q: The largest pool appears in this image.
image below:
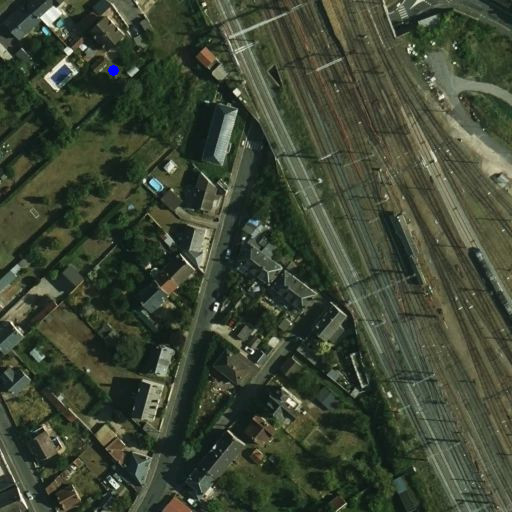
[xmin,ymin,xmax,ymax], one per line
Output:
[45,59,78,92]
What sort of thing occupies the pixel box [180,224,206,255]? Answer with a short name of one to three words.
house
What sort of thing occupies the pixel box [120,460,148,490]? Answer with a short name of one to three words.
house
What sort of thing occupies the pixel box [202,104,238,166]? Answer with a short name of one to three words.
building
